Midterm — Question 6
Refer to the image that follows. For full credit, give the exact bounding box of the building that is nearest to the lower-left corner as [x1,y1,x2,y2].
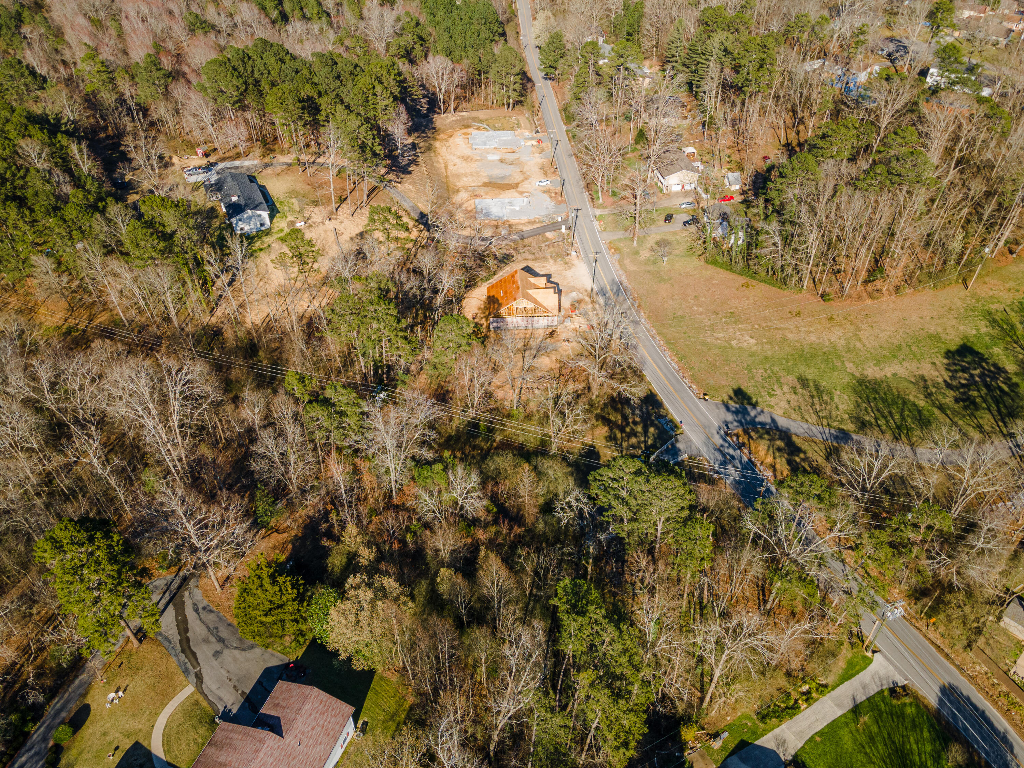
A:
[190,681,356,768]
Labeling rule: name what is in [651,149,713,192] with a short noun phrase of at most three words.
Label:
house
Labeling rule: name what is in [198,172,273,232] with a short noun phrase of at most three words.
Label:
house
